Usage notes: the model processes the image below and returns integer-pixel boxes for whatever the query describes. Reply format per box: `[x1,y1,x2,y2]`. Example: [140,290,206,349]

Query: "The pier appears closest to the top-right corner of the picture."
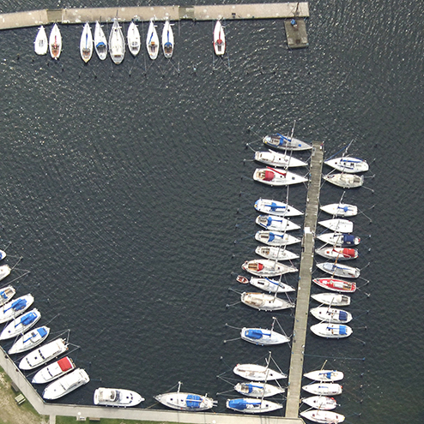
[194,1,308,22]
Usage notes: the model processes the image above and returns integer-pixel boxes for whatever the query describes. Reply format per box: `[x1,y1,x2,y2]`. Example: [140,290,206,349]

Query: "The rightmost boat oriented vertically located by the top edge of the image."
[209,17,226,58]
